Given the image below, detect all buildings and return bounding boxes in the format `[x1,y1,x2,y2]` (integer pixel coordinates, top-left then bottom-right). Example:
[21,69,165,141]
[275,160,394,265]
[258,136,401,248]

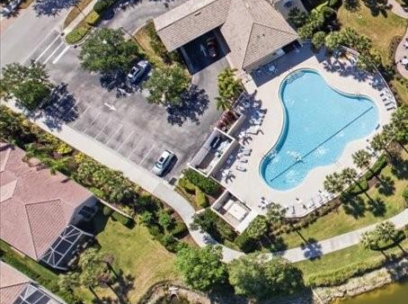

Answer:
[0,262,36,304]
[0,134,96,261]
[155,0,304,68]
